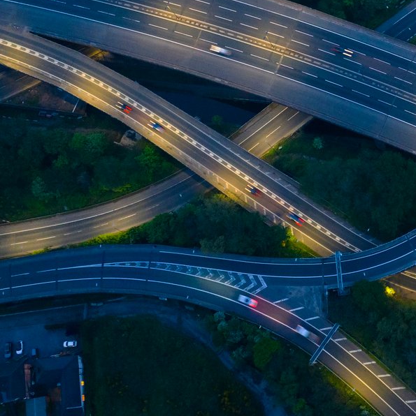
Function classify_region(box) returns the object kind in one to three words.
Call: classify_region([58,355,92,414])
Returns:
building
